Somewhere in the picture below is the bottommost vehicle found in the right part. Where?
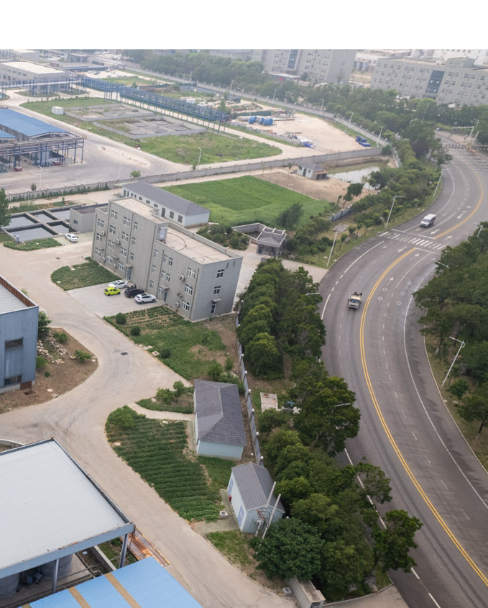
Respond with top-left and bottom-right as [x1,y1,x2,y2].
[349,291,364,308]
